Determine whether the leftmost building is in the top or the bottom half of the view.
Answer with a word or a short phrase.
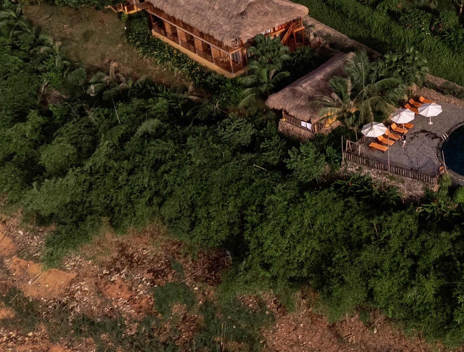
top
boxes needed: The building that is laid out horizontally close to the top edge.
[140,0,305,79]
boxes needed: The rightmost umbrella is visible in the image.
[418,100,442,125]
